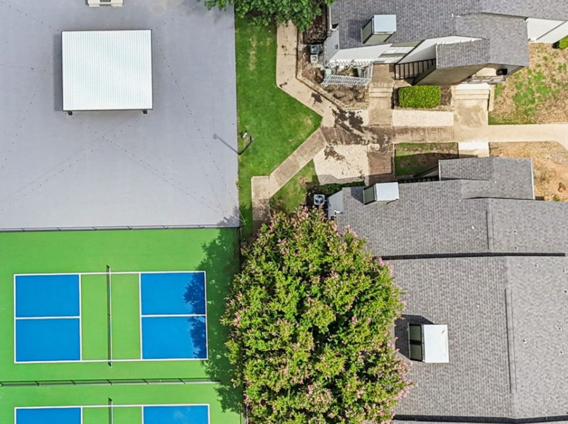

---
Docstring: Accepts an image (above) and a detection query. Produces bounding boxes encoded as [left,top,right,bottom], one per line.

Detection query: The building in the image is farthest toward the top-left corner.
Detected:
[62,28,153,117]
